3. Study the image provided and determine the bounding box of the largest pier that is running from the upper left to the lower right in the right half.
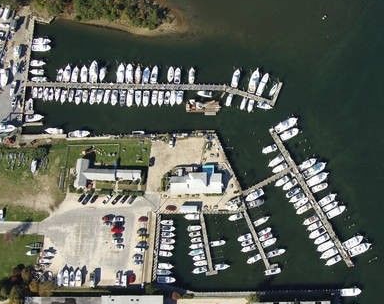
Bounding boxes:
[269,128,353,268]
